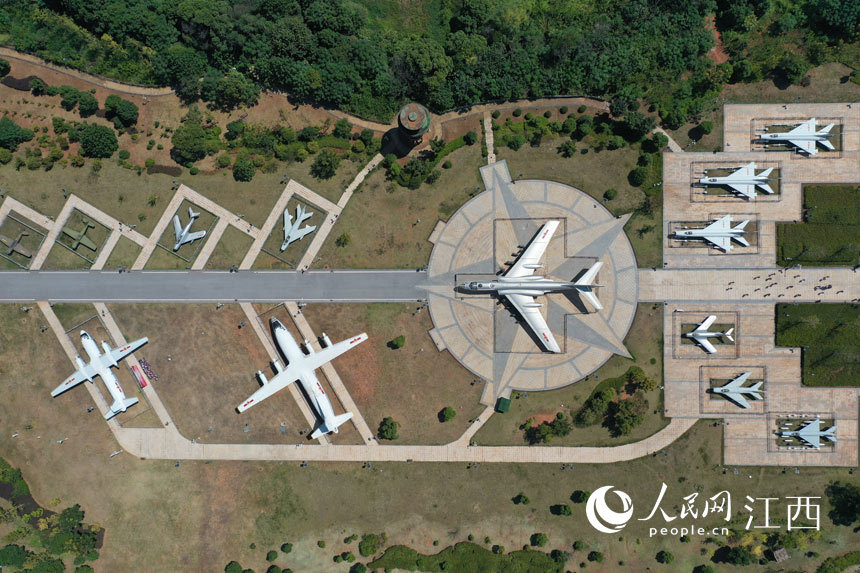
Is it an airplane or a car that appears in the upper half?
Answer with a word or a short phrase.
airplane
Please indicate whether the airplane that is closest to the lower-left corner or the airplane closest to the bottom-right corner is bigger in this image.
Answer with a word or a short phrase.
the airplane that is closest to the lower-left corner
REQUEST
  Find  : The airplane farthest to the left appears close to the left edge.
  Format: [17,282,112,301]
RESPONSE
[0,225,33,257]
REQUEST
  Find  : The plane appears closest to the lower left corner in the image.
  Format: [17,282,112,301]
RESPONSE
[50,331,149,418]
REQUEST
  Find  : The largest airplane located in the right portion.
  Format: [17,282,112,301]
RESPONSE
[456,222,603,351]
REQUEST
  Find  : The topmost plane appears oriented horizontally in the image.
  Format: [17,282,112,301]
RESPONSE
[757,119,838,155]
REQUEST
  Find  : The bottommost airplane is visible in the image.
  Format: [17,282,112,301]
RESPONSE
[780,420,839,448]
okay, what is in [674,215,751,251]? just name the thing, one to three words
airplane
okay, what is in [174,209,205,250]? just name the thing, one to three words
airplane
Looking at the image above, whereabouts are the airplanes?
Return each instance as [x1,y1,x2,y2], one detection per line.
[456,222,603,351]
[674,215,751,251]
[235,318,367,440]
[712,373,766,408]
[698,163,777,198]
[685,316,732,354]
[50,331,149,418]
[281,202,315,253]
[0,225,33,257]
[780,420,839,448]
[757,119,838,155]
[61,218,97,251]
[174,209,205,250]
